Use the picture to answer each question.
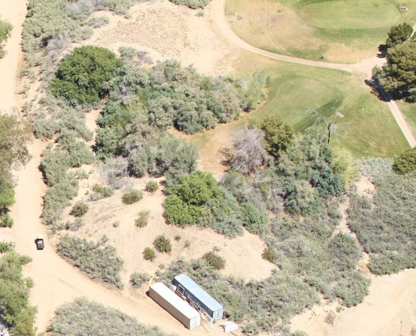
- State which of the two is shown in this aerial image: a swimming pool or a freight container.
freight container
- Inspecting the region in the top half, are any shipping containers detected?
No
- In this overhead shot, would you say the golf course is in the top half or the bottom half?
top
